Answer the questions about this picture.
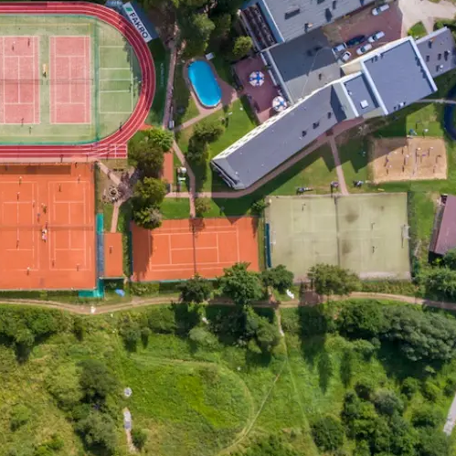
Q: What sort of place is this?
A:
sports ground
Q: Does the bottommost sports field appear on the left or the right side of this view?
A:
right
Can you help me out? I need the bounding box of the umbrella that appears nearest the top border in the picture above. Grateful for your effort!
[249,71,265,86]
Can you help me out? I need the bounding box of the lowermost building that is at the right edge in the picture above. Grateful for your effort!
[426,194,456,256]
